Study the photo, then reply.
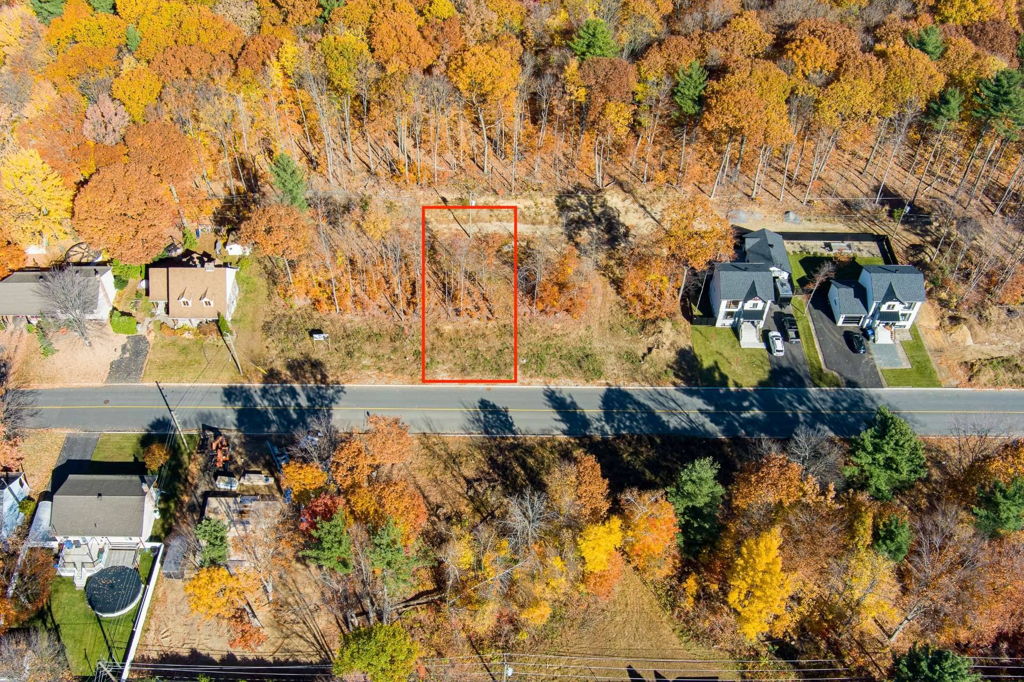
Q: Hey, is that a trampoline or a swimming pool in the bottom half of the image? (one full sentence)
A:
The feature located in the bottom half of the image is a swimming pool.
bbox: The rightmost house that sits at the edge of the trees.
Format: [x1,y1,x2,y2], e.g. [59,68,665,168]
[825,265,926,350]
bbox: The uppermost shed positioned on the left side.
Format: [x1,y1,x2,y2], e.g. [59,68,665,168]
[223,228,250,255]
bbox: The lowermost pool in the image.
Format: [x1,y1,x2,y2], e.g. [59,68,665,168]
[91,568,148,620]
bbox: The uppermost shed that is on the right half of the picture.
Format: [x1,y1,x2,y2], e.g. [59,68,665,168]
[735,227,792,281]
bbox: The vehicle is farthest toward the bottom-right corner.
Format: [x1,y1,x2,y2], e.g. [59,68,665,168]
[848,330,867,354]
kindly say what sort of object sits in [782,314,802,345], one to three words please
vehicle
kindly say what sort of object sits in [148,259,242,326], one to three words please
house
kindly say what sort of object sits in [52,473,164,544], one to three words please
house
